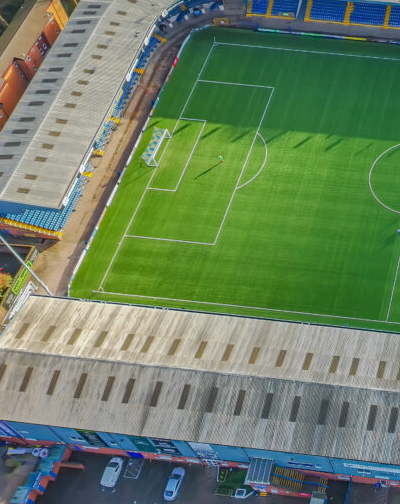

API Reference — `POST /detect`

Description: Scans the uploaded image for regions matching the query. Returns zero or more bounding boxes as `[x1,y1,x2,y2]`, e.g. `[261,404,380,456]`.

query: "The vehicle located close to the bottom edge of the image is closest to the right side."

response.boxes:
[162,467,186,500]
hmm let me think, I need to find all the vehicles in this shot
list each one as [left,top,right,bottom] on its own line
[100,456,126,488]
[162,467,186,500]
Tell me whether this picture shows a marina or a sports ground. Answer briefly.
sports ground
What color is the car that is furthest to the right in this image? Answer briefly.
blue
